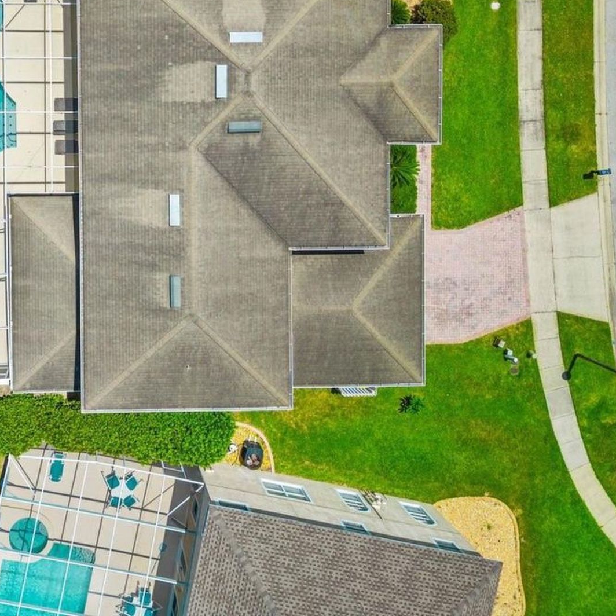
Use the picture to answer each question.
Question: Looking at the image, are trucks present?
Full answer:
No, no truck is visible in the scene.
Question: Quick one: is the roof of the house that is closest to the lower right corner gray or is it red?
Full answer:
From above, the roof of the house that is closest to the lower right corner appears gray.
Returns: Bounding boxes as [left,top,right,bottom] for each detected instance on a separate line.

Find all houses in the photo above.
[177,464,504,616]
[8,0,445,416]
